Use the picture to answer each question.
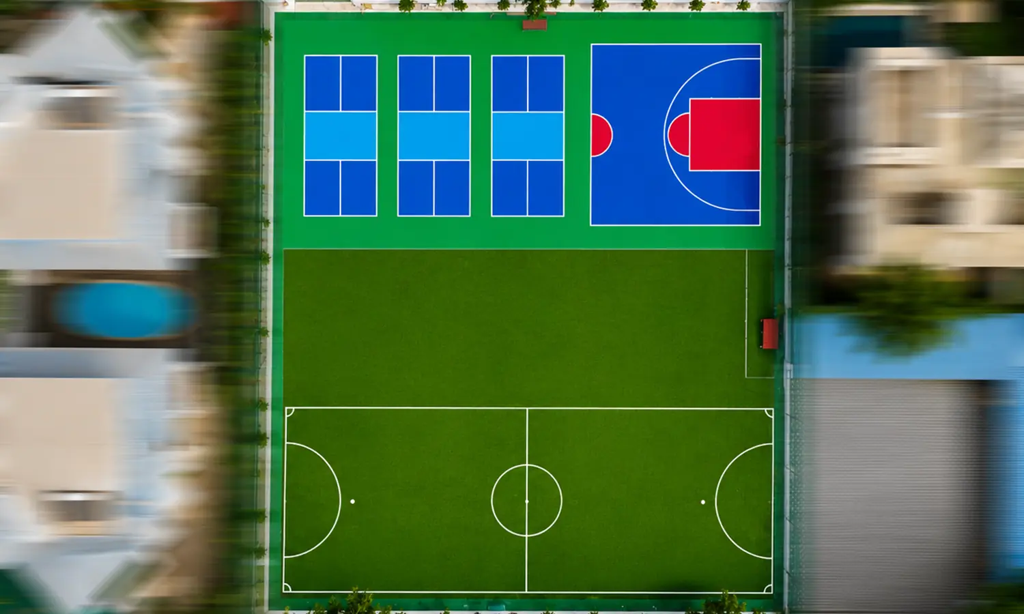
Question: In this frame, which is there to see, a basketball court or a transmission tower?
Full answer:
This aerial view contains a basketball court.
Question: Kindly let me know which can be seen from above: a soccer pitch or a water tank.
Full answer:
This aerial view contains a soccer pitch.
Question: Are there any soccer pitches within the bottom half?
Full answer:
Yes, you'll find a soccer pitch within the bottom half.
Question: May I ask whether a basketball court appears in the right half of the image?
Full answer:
Yes, looking in the right half of the image, one can make out a basketball court.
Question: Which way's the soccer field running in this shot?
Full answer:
The soccer field is laid out horizontally.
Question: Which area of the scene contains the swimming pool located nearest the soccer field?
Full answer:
The swimming pool located nearest the soccer field appears toward the left of the photo.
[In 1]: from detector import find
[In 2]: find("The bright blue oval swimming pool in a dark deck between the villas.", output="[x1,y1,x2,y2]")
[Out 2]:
[51,279,197,339]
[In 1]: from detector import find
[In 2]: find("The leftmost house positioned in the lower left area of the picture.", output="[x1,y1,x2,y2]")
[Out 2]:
[0,348,199,610]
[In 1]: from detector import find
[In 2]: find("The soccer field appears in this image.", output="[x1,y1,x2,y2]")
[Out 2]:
[283,407,774,594]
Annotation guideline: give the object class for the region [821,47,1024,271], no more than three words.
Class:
house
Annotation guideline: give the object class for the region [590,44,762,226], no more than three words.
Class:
basketball court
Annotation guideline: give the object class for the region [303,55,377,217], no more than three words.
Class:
sports court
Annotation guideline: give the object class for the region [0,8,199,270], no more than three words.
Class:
house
